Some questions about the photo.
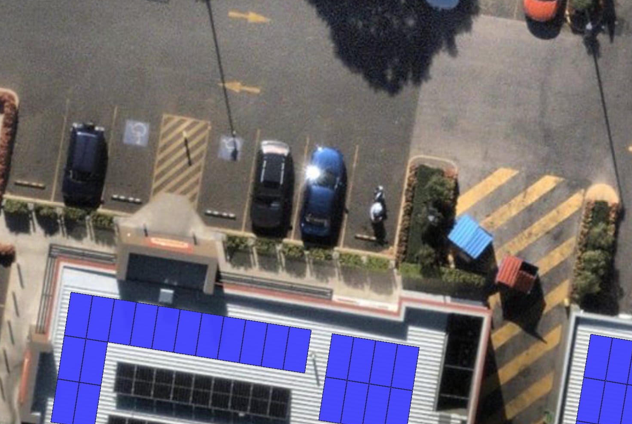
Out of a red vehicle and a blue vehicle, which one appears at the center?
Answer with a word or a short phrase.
blue vehicle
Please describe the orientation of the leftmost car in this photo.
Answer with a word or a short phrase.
vertically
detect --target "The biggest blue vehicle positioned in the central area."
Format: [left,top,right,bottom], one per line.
[301,145,345,239]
